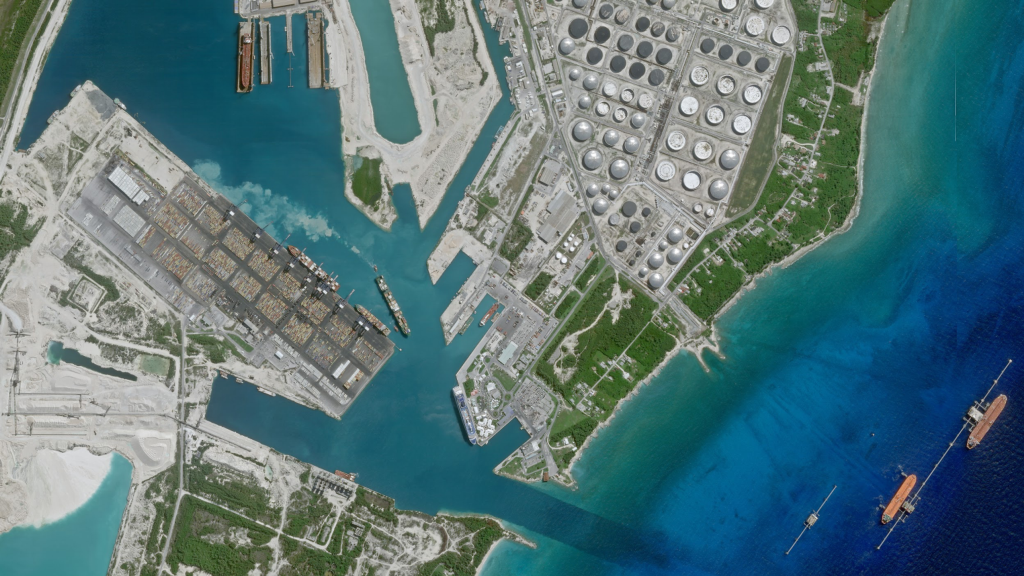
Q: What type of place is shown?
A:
port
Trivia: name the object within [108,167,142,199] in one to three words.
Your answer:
building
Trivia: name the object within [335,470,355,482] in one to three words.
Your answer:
ship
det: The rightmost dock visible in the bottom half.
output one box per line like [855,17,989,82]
[877,359,1012,550]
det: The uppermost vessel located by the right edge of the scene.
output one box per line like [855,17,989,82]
[968,395,1007,450]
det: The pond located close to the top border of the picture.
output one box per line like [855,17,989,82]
[349,0,421,145]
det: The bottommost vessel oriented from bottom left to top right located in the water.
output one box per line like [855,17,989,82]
[882,474,916,525]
